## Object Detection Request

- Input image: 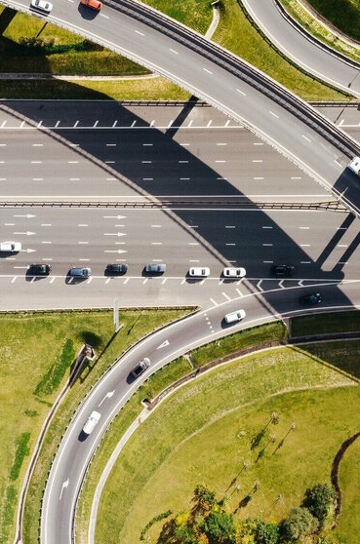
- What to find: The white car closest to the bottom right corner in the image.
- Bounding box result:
[223,311,247,325]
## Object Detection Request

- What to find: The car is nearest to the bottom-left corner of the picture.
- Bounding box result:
[82,411,101,435]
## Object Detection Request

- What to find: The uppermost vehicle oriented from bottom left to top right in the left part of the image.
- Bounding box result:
[129,357,151,379]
